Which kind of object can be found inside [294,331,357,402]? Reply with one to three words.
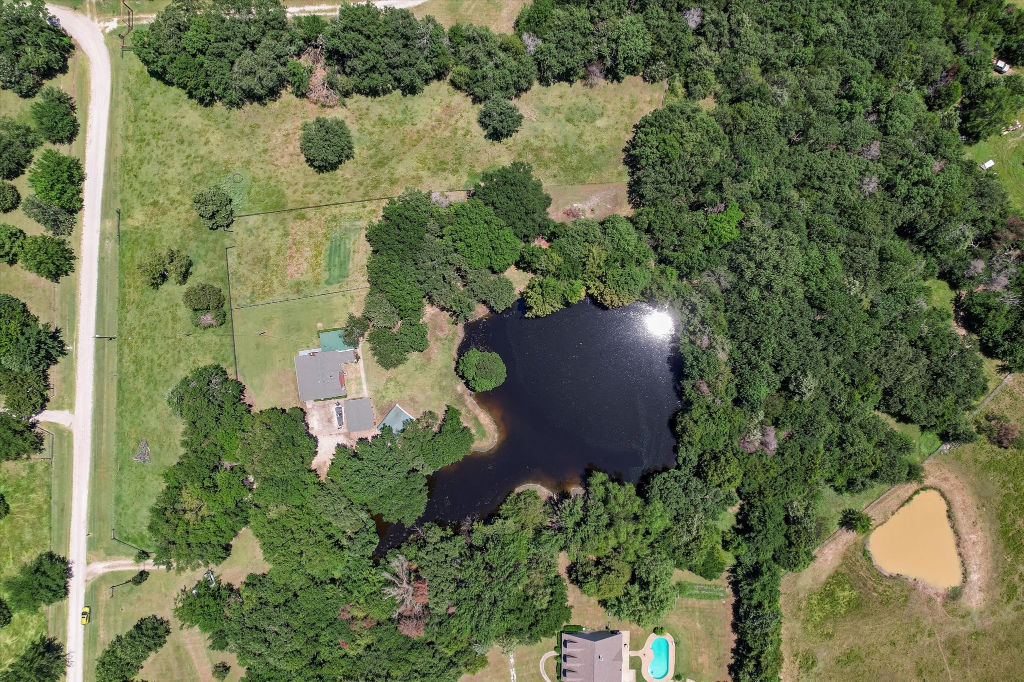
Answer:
house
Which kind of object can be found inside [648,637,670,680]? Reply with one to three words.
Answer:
swimming pool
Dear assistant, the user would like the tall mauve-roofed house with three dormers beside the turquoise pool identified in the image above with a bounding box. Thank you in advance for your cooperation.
[561,625,624,682]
